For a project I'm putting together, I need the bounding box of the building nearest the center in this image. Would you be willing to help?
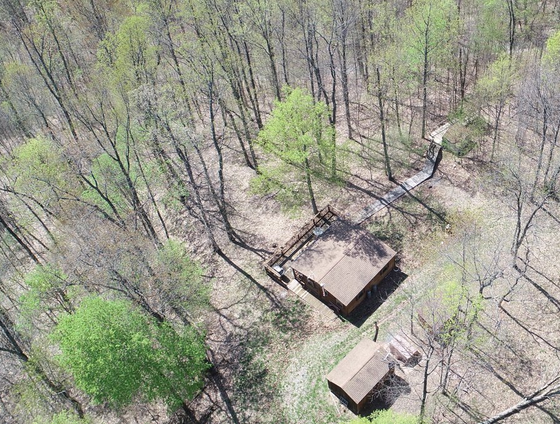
[290,218,397,315]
